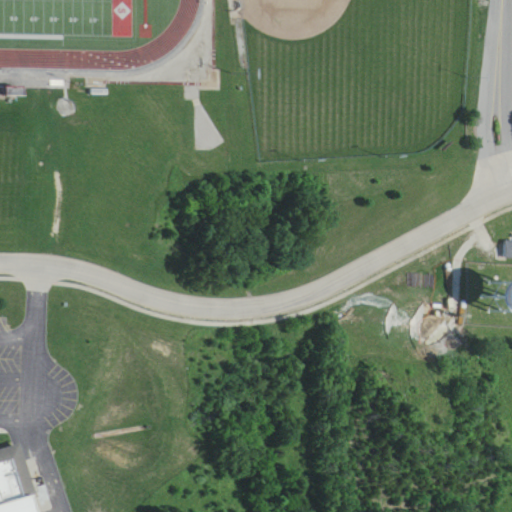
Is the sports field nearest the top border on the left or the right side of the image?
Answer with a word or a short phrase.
left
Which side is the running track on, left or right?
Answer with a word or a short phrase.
left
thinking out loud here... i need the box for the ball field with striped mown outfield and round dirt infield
[236,0,472,160]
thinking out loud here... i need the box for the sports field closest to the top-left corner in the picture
[0,0,180,49]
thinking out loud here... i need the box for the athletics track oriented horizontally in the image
[0,0,204,72]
